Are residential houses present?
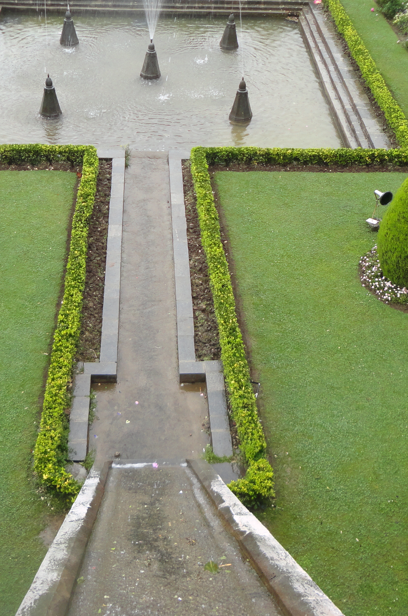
No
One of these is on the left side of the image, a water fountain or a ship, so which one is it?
water fountain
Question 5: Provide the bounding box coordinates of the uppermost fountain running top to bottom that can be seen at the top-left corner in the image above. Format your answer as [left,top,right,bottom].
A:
[60,9,79,49]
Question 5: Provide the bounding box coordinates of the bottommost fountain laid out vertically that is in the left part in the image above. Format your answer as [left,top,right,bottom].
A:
[40,75,62,122]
